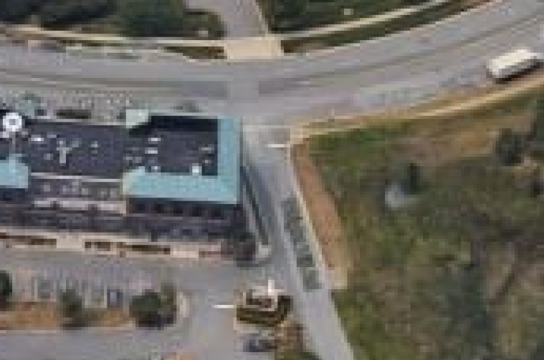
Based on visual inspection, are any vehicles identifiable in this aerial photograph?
Yes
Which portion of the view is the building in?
left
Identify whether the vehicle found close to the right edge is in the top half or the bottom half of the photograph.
top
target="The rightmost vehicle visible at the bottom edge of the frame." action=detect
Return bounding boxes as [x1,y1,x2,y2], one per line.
[243,337,276,351]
